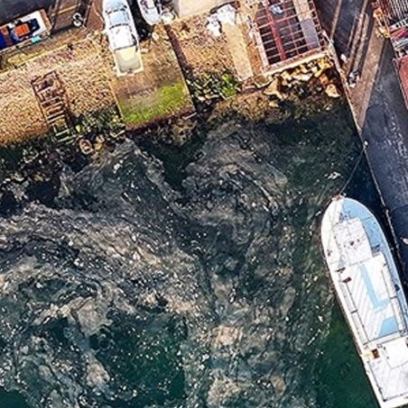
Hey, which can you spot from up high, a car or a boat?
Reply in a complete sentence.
Visible in the photo is a boat.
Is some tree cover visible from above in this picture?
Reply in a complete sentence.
No, the picture contains no tree cover.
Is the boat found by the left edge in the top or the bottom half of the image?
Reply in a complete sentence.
The boat found by the left edge sits in the top half of the picture.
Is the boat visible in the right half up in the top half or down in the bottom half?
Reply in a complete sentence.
The boat visible in the right half is in the bottom half of the image.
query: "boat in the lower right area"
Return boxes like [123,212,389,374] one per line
[320,190,408,408]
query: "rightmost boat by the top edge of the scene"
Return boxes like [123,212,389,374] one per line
[136,0,161,25]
